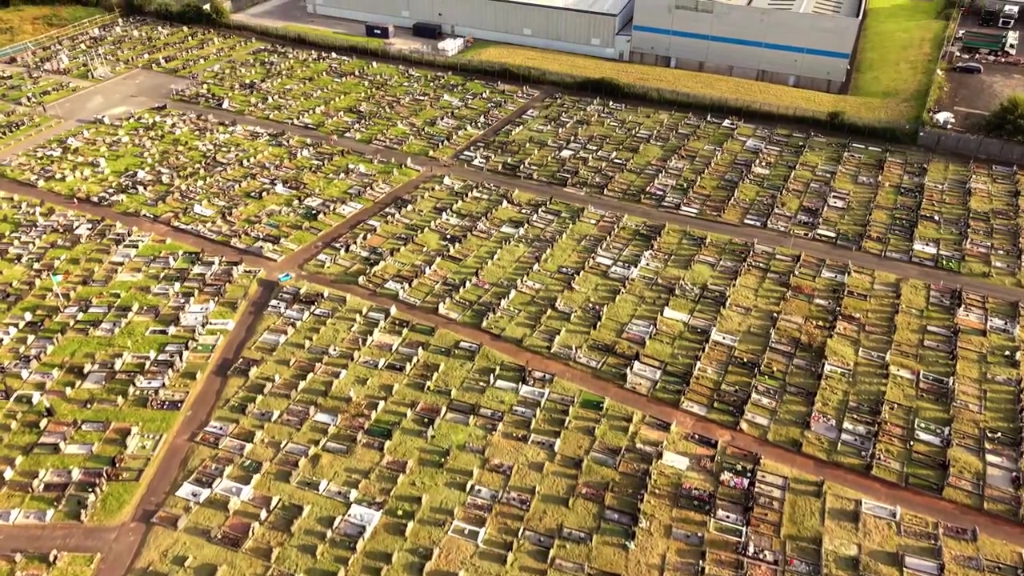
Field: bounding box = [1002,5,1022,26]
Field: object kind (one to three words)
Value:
vehicle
